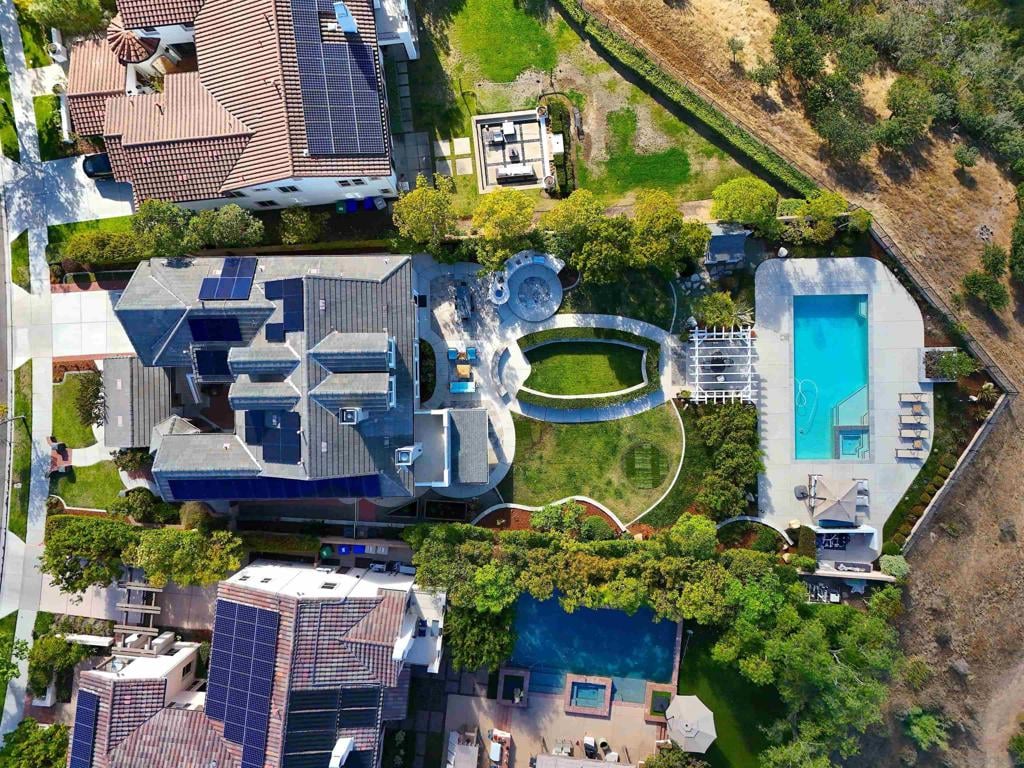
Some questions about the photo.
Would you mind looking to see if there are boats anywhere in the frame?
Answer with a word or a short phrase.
No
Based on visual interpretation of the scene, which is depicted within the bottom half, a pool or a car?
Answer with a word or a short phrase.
pool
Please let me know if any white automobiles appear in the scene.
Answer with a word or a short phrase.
No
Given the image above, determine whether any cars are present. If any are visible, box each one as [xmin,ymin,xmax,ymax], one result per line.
[80,149,114,183]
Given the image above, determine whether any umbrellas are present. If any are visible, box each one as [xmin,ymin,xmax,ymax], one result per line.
[665,694,717,753]
[812,480,858,521]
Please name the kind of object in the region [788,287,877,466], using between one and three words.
swimming pool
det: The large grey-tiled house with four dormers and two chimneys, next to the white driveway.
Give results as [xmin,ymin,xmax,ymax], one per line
[103,256,489,503]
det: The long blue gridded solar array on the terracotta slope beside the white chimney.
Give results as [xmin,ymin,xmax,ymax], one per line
[292,0,385,153]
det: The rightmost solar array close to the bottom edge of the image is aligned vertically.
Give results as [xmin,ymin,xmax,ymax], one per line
[204,600,277,768]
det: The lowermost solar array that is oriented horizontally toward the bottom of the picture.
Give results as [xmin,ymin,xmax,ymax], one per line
[167,479,380,501]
